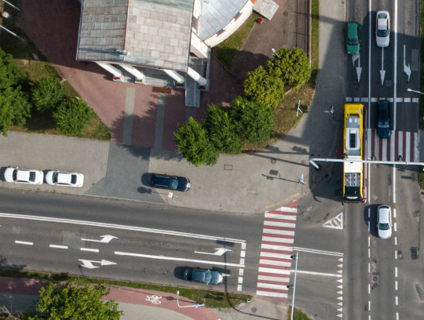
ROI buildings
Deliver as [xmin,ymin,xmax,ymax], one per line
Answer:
[77,0,255,106]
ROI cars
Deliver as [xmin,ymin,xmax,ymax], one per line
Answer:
[374,10,392,49]
[47,170,87,189]
[152,175,191,192]
[375,102,393,138]
[375,206,392,239]
[6,167,46,185]
[185,267,224,285]
[344,22,361,55]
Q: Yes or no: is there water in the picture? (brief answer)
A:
No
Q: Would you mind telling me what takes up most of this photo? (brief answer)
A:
paved ground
